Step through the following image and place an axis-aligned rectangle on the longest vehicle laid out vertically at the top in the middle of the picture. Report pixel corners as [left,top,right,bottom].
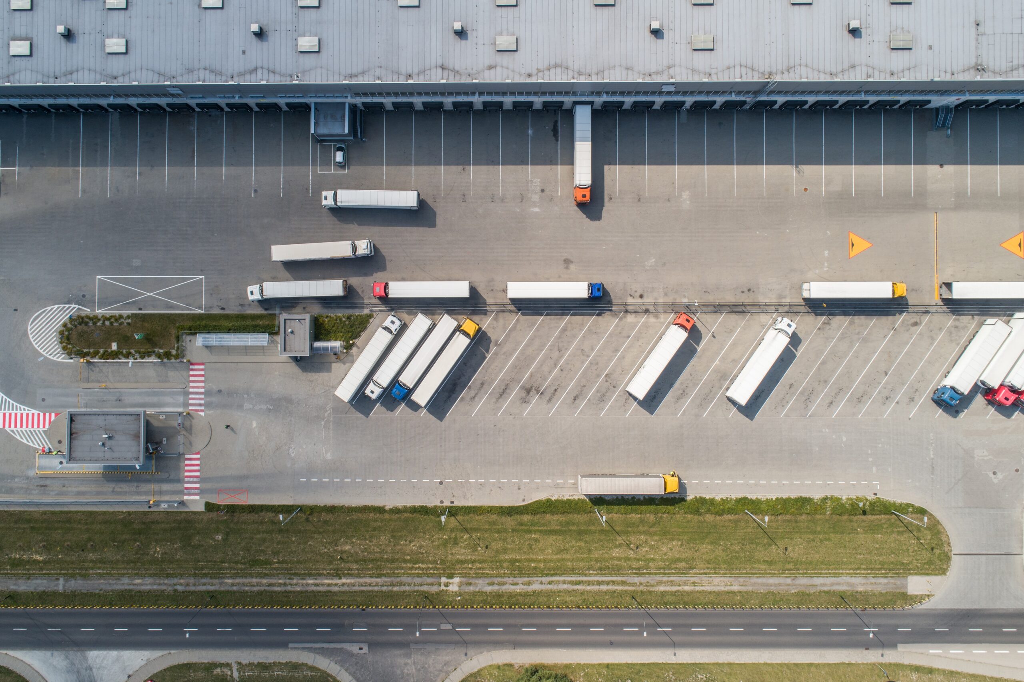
[573,105,592,207]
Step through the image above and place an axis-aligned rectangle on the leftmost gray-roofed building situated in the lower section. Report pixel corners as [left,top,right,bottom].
[56,410,153,469]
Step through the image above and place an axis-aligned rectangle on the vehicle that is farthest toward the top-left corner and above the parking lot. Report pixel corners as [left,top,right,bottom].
[333,141,346,165]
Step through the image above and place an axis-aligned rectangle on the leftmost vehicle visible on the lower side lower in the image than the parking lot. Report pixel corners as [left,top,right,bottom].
[579,473,679,495]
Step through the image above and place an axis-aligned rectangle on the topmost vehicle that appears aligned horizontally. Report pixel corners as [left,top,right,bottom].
[321,189,420,209]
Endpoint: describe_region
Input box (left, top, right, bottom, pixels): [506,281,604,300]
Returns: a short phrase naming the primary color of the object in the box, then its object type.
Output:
white vehicle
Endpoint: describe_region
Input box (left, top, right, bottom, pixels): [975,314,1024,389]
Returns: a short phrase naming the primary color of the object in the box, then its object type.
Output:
white trailer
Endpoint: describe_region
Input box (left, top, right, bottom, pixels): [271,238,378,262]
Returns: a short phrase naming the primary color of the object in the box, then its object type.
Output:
white truck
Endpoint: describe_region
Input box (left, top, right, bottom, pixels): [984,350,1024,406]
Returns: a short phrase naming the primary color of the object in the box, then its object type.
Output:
white truck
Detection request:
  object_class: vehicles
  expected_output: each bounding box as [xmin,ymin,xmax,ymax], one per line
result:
[247,280,348,303]
[334,312,405,402]
[984,350,1024,406]
[410,317,481,407]
[726,316,797,406]
[573,105,592,207]
[389,314,460,401]
[801,281,906,300]
[333,141,346,165]
[271,238,378,262]
[935,282,1024,299]
[372,281,471,300]
[364,312,434,401]
[321,189,420,209]
[626,312,696,400]
[932,319,1011,406]
[506,281,604,300]
[579,473,679,495]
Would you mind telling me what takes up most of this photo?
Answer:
paved ground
